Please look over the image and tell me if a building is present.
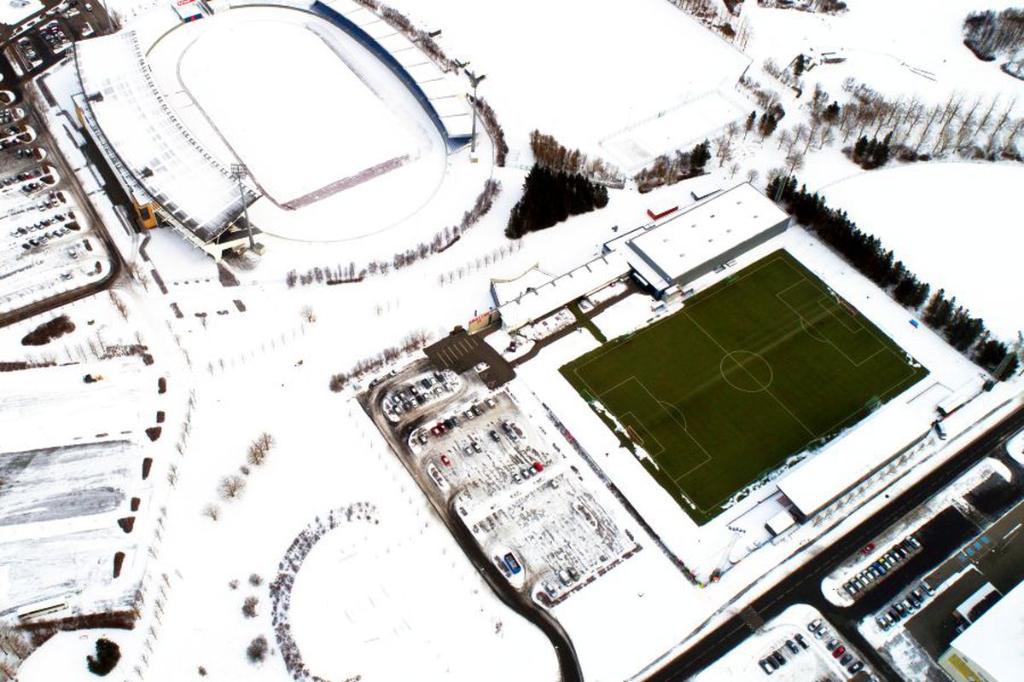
Yes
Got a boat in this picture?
No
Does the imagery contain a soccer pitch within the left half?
No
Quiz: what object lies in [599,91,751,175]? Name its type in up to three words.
sports field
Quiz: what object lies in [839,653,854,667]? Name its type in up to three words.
car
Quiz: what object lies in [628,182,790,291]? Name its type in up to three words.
building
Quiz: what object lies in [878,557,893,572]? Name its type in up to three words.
car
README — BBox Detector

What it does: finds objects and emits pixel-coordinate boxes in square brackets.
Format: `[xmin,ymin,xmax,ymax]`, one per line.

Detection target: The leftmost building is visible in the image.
[18,599,68,620]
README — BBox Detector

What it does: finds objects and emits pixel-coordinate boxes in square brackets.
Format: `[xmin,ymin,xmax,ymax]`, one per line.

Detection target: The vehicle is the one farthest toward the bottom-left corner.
[82,372,106,384]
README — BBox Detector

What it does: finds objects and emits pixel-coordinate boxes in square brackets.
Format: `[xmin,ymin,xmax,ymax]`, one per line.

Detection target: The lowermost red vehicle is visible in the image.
[832,646,846,659]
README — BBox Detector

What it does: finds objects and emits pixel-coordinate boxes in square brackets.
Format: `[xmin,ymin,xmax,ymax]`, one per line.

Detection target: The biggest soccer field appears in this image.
[559,247,929,525]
